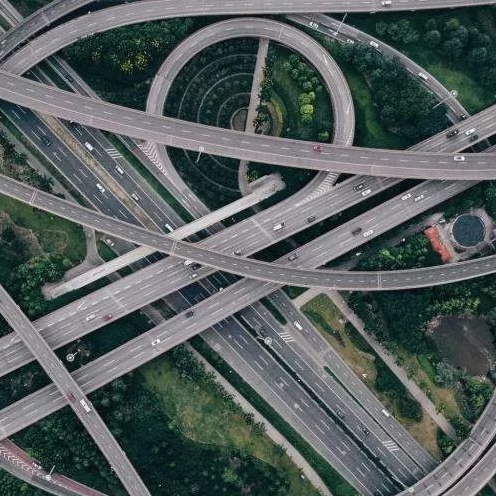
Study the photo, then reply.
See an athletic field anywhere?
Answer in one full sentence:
No, there isn't any athletic field down there.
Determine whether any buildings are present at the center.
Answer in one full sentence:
No, no building can be made out at the center.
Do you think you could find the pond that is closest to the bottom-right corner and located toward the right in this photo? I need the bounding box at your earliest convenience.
[426,314,495,377]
